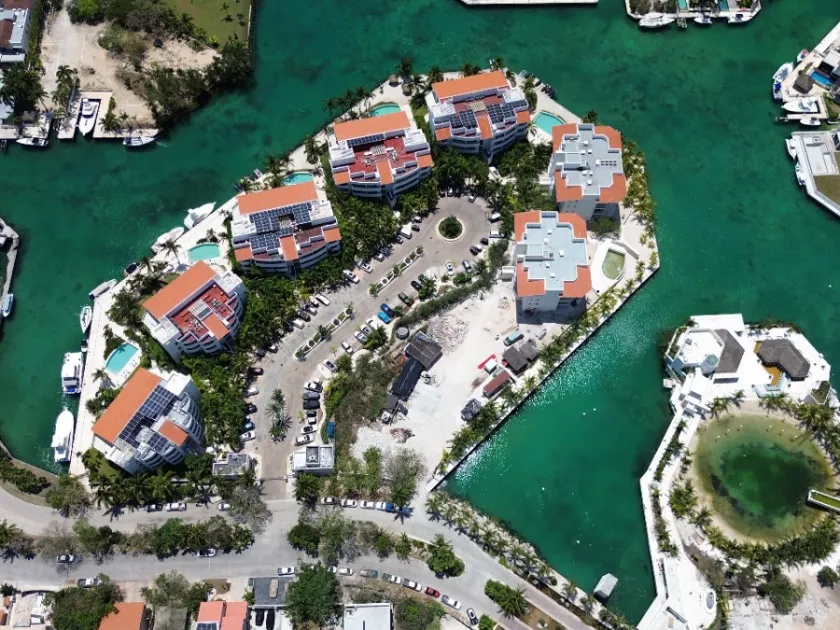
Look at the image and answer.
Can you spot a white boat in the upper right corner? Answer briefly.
Yes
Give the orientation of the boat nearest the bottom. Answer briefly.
up and down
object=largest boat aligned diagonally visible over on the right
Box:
[769,63,793,83]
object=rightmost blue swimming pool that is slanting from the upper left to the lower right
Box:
[810,71,833,89]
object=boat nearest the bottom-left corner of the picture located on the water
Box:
[49,408,72,463]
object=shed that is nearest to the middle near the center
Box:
[405,332,442,372]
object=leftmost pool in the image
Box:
[104,343,139,373]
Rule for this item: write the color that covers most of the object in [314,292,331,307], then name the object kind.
white vehicle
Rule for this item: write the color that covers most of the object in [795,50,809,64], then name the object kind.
white boat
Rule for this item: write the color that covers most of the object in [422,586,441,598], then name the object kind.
red vehicle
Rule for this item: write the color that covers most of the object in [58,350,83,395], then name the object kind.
white boat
